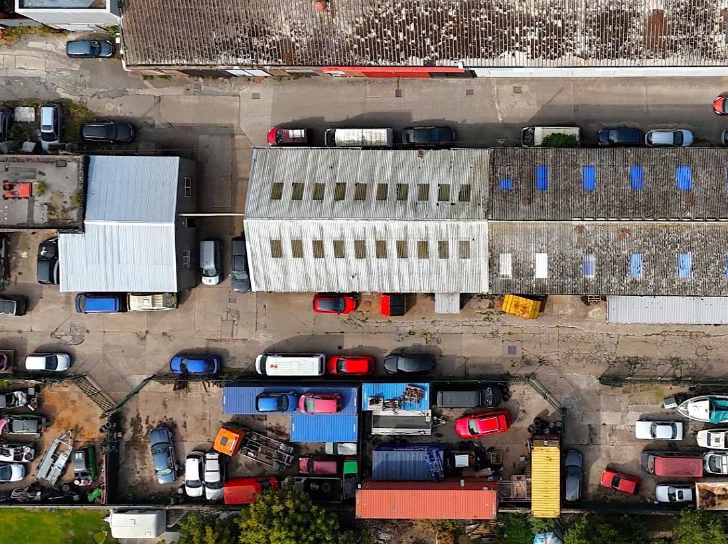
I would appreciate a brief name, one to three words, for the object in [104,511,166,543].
camper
